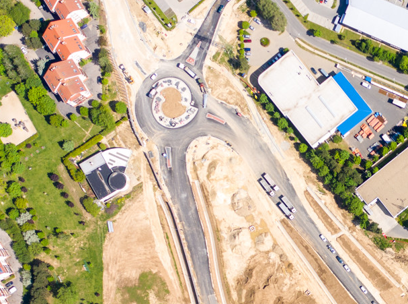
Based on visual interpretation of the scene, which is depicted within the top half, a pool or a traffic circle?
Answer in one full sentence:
The one visible within the top half is a traffic circle.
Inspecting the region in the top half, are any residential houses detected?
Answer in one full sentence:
Yes, the scene does show a residential house in the top half.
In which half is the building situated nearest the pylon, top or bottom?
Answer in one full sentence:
The building situated nearest the pylon sits in the top half of the picture.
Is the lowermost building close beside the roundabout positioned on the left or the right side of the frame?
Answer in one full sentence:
The lowermost building close beside the roundabout is on the left side of the image.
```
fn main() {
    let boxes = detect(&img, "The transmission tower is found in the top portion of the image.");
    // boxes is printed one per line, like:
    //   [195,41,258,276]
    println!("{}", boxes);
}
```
[213,38,238,57]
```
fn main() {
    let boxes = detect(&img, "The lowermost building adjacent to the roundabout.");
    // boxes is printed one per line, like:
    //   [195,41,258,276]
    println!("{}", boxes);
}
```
[79,148,135,205]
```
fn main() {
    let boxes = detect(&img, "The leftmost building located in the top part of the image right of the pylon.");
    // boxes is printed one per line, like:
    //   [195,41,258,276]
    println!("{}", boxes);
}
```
[259,50,372,149]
